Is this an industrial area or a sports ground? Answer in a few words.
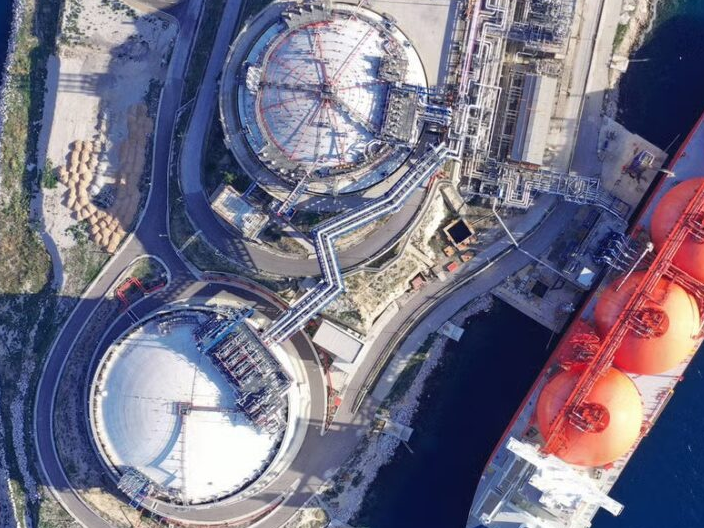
industrial area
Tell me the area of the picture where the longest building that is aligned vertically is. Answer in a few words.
top right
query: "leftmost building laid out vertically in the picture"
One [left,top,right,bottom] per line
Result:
[511,73,558,167]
